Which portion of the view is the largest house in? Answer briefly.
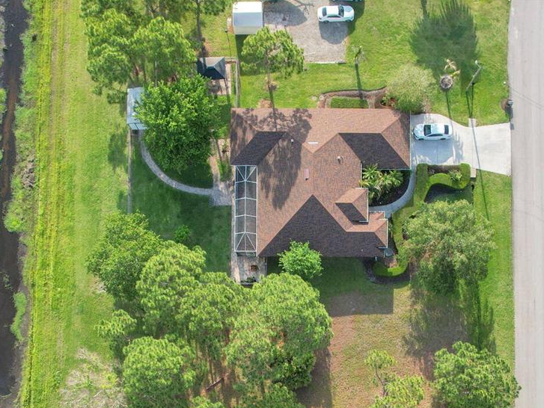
center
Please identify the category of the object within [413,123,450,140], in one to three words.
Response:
car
